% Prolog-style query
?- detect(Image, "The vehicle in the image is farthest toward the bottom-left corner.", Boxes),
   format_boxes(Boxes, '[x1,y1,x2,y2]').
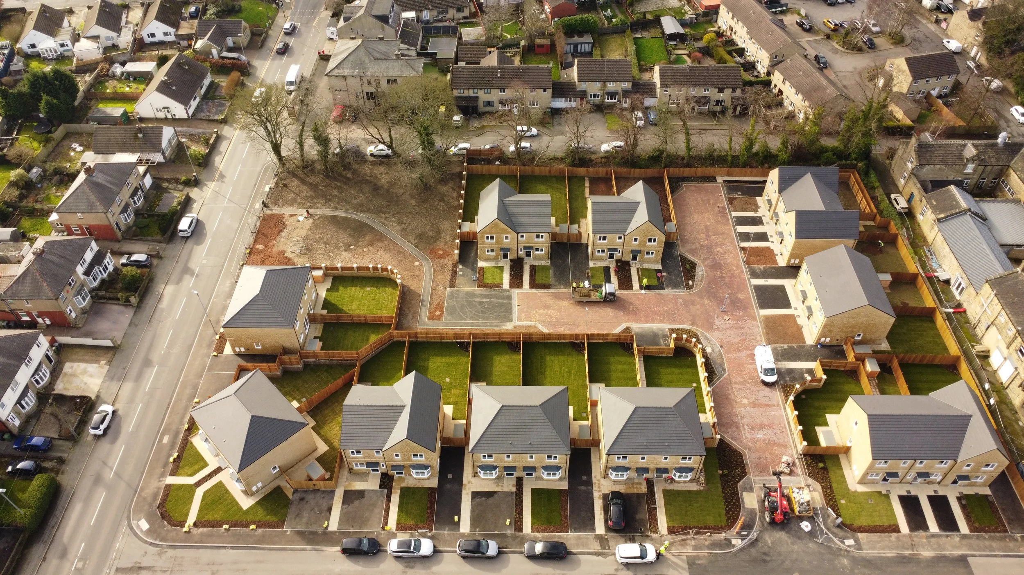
[5,458,44,477]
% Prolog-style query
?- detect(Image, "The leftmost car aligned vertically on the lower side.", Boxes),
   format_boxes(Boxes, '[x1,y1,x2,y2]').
[607,491,626,530]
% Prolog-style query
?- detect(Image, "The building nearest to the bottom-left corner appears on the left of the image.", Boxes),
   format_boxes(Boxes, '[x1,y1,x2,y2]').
[0,330,58,436]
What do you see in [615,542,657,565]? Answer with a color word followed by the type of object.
white car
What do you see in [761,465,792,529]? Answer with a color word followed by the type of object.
red work vehicle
